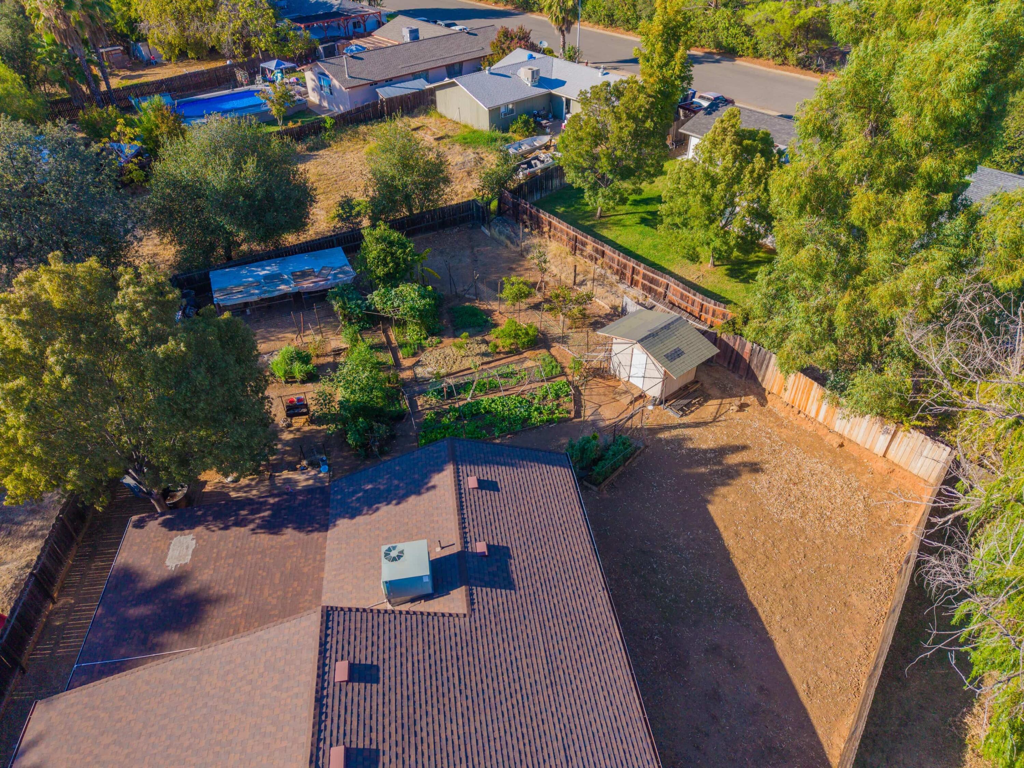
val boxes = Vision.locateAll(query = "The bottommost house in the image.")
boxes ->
[5,439,665,768]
